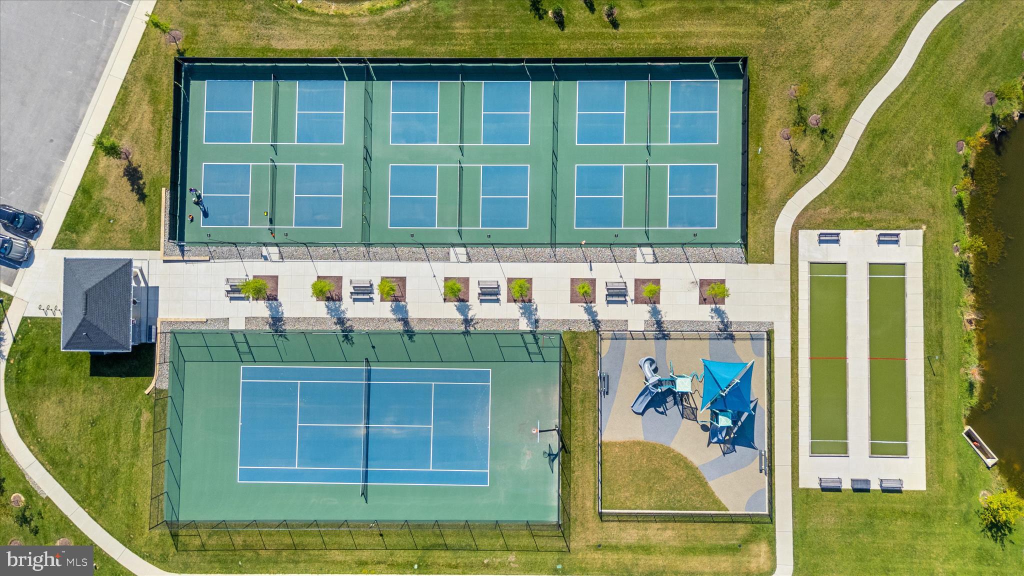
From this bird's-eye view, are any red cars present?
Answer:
No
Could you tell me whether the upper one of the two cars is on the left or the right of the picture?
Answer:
left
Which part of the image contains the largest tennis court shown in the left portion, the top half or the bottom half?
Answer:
bottom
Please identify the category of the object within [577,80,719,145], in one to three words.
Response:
sports court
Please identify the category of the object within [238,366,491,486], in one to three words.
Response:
tennis court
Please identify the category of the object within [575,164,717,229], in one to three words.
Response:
sports court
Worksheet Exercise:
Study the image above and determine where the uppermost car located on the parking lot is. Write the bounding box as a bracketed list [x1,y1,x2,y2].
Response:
[0,201,43,234]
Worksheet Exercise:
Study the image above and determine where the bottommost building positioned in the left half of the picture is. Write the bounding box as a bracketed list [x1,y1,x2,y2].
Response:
[60,257,146,352]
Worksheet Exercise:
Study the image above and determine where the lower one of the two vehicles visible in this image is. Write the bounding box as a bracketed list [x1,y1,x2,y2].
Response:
[0,232,31,261]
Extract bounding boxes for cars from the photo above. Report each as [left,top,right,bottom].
[0,201,43,234]
[0,232,31,261]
